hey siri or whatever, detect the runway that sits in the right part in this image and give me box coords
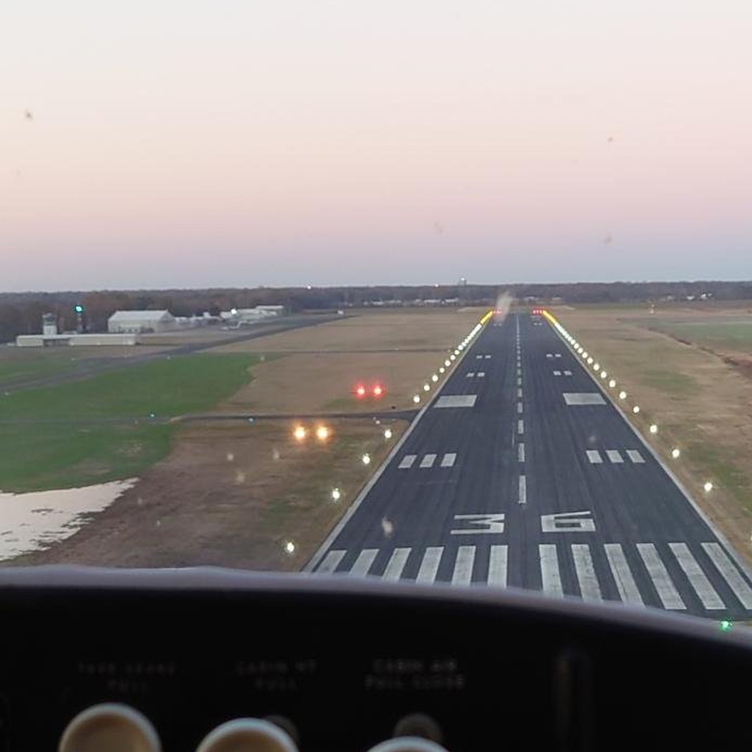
[296,311,752,623]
